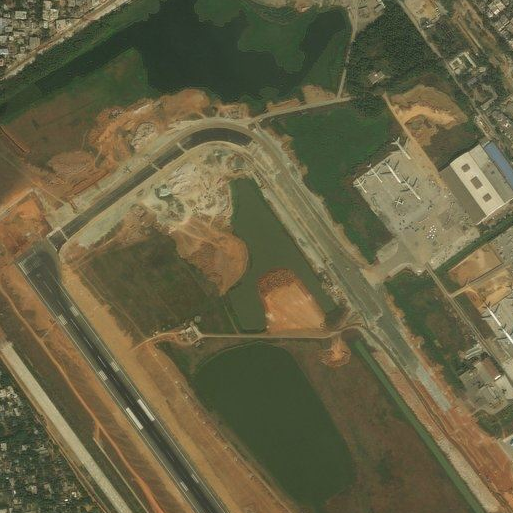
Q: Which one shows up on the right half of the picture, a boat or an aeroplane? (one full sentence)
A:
Looking on the right half of the picture, you will find an aeroplane.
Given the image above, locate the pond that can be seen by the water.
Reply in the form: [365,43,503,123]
[225,178,336,333]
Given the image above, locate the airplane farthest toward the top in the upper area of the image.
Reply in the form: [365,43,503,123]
[392,138,411,159]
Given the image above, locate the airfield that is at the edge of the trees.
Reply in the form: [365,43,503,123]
[2,128,513,513]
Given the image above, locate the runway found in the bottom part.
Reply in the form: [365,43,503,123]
[15,240,231,513]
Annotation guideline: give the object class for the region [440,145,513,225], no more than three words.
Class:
hangar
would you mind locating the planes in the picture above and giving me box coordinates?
[392,138,411,159]
[399,173,421,199]
[498,326,513,348]
[382,159,401,182]
[368,165,383,182]
[482,303,502,327]
[354,176,368,193]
